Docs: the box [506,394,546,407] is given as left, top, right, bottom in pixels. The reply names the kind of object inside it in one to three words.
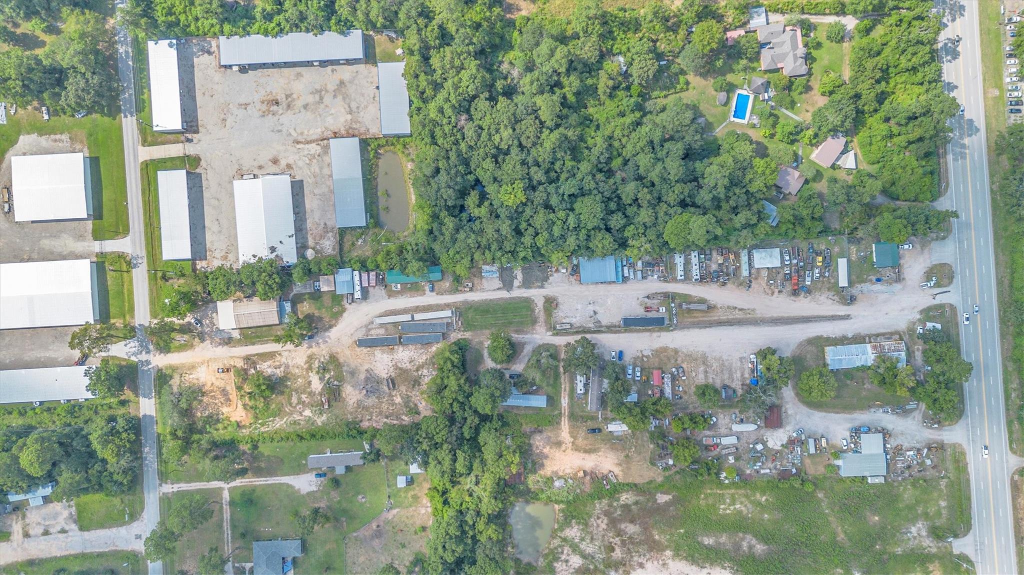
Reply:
barn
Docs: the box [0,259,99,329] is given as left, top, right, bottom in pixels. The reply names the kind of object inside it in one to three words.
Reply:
building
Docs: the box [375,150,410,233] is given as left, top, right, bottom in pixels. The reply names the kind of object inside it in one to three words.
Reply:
pond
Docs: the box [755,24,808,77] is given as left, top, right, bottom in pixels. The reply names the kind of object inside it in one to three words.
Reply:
house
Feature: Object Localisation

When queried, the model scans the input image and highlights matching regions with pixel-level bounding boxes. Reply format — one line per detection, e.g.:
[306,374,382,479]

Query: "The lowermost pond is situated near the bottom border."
[509,501,556,563]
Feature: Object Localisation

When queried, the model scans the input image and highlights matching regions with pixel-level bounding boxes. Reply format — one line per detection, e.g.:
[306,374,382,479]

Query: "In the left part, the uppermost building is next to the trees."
[218,29,365,68]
